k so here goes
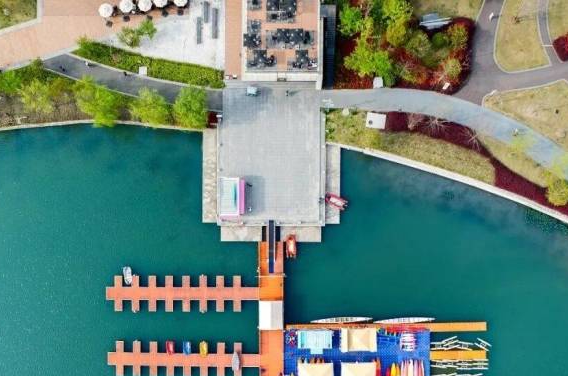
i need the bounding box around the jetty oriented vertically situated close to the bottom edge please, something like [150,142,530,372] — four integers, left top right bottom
[257,241,285,376]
